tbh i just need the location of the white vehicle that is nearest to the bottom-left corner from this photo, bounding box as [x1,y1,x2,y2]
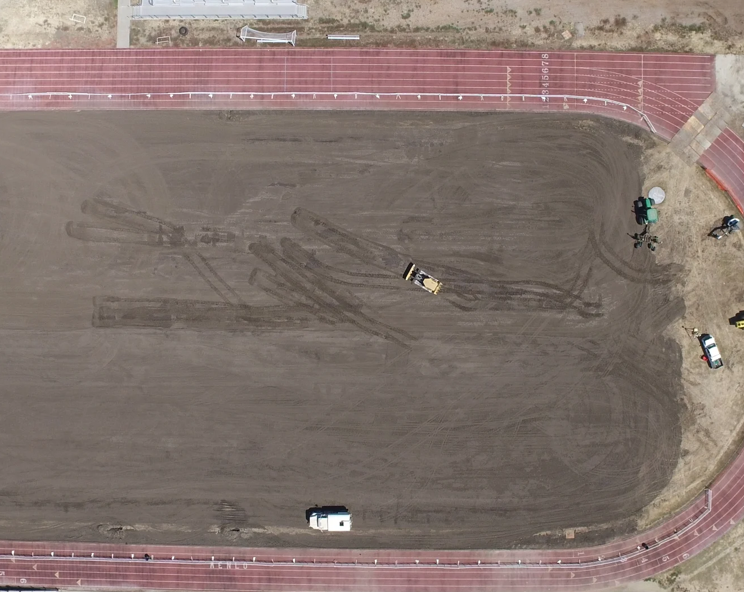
[308,511,353,531]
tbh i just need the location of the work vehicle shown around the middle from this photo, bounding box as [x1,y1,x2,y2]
[407,265,441,292]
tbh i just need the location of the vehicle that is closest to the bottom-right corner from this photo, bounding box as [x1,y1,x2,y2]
[700,334,725,372]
